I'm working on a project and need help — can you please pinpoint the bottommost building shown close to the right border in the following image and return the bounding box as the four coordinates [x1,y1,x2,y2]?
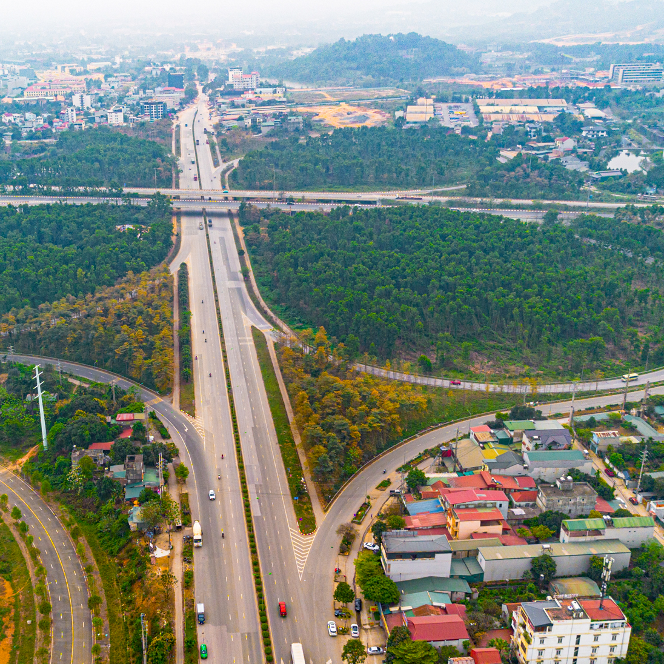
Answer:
[510,592,632,664]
